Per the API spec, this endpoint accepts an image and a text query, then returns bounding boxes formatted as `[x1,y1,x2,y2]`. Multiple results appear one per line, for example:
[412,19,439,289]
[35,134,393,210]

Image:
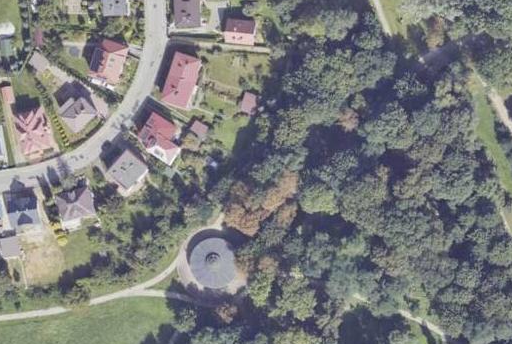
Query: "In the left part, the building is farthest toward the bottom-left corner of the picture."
[0,235,22,258]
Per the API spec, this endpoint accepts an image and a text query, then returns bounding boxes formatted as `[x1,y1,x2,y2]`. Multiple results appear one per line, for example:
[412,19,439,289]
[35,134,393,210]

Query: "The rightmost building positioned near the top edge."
[222,17,257,48]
